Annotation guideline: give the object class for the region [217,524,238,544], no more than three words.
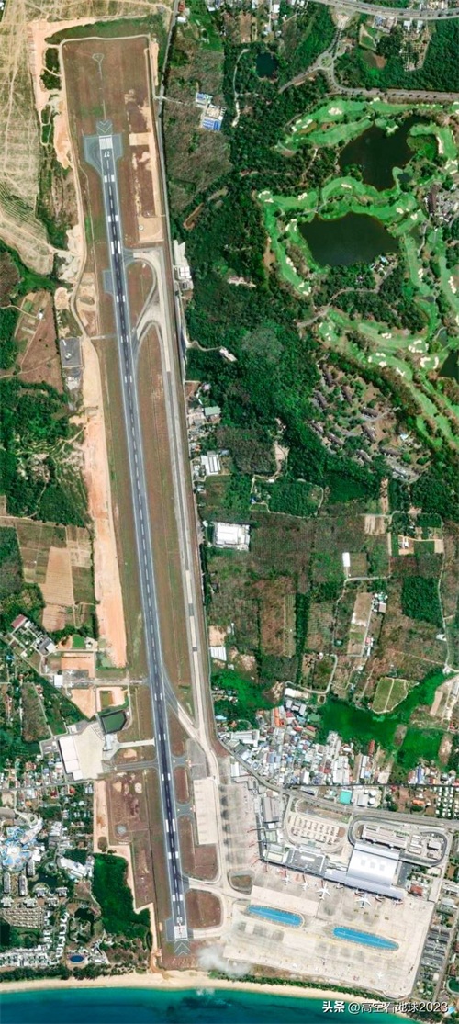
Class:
building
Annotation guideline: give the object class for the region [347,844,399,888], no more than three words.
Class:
building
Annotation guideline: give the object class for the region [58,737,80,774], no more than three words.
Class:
hangar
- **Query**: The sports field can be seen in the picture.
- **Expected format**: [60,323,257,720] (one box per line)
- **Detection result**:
[372,677,417,713]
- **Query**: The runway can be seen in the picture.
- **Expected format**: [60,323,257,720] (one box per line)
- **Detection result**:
[99,123,189,952]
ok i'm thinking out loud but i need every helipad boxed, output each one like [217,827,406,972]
[60,337,81,367]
